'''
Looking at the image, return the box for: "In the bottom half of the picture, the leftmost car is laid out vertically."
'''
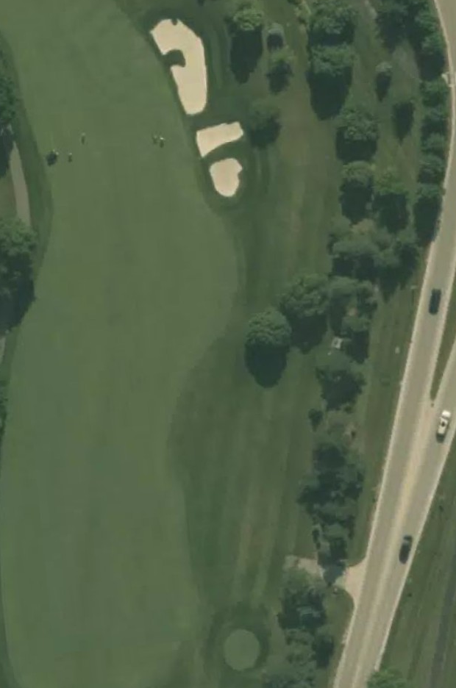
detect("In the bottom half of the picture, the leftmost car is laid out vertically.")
[400,536,412,562]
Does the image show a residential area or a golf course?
golf course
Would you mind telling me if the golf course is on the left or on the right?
left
